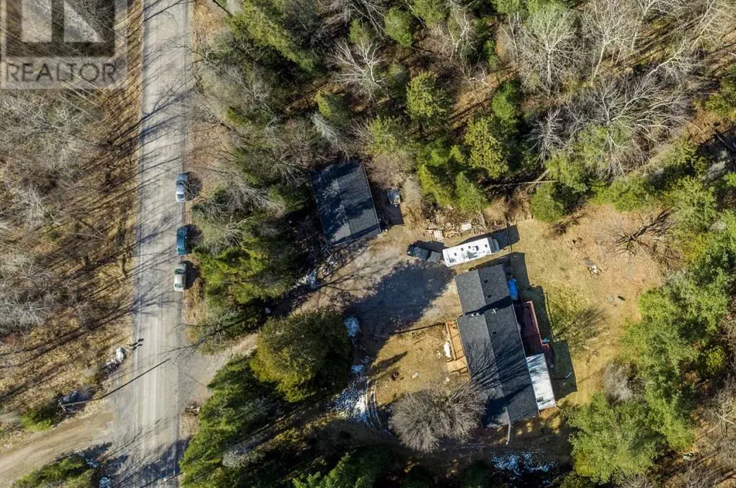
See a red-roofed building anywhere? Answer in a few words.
No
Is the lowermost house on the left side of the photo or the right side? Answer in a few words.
right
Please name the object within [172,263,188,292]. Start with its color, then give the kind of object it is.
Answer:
white car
